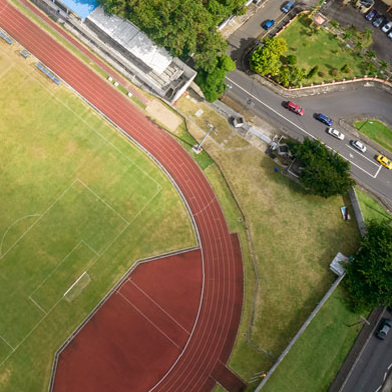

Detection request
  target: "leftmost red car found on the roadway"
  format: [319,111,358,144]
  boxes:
[286,100,304,115]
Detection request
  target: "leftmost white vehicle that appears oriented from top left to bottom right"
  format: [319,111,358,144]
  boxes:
[327,126,345,141]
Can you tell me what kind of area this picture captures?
sports ground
